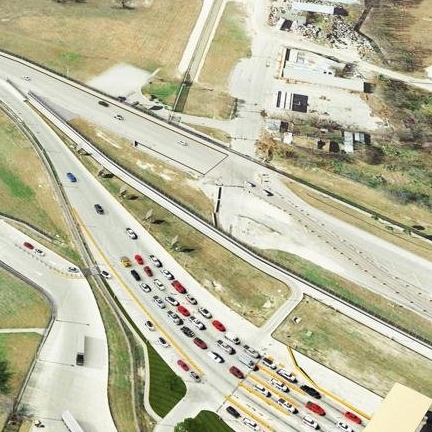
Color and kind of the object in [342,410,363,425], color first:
red car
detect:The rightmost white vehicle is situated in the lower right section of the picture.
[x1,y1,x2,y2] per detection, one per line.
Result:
[334,419,356,432]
